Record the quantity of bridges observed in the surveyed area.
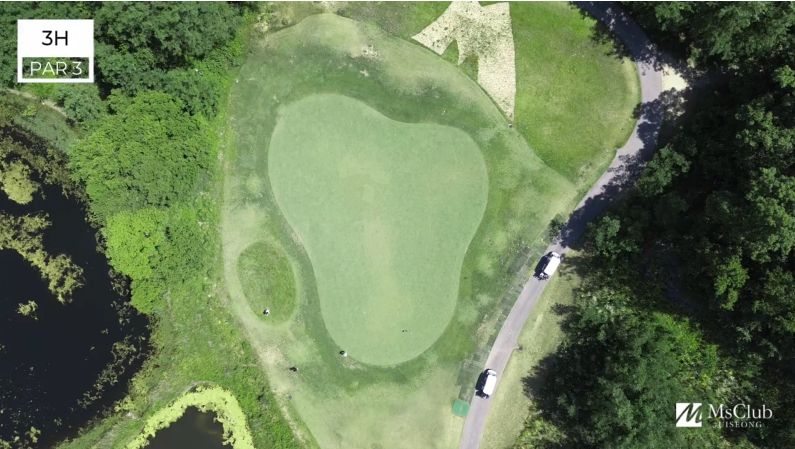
none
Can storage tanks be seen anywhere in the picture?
No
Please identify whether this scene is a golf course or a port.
golf course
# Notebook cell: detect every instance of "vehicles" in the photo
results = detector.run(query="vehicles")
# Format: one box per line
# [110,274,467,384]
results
[479,368,496,395]
[537,252,559,278]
